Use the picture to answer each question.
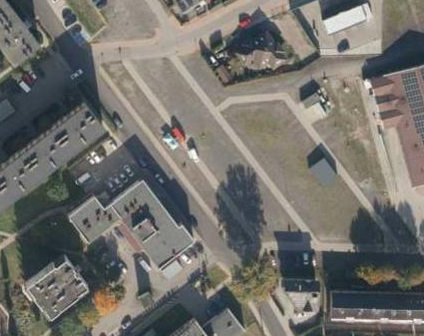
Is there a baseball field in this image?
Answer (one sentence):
No, no baseball field can be seen from above.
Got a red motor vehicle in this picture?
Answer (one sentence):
Yes, you can see a red motor vehicle in this photo.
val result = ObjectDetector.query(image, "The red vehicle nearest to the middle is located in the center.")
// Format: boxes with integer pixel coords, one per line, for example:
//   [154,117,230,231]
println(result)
[170,125,187,144]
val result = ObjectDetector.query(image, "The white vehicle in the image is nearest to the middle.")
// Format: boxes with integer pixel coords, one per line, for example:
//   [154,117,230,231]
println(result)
[187,148,200,163]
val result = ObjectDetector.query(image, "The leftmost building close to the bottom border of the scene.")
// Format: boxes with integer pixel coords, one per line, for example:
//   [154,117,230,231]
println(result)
[24,257,90,322]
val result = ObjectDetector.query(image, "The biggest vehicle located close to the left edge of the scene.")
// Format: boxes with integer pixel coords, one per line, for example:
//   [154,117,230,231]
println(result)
[20,70,39,91]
